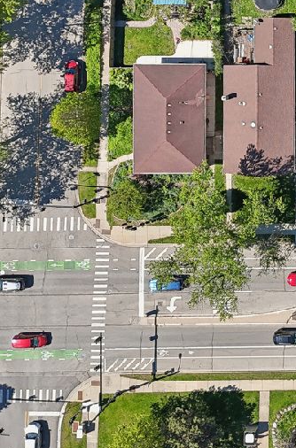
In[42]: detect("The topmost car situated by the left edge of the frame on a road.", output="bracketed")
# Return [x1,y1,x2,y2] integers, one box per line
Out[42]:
[0,275,27,291]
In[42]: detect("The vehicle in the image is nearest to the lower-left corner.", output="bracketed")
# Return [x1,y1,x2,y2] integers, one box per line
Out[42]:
[24,422,44,448]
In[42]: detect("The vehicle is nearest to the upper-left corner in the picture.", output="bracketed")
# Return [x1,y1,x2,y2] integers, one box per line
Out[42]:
[62,60,81,93]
